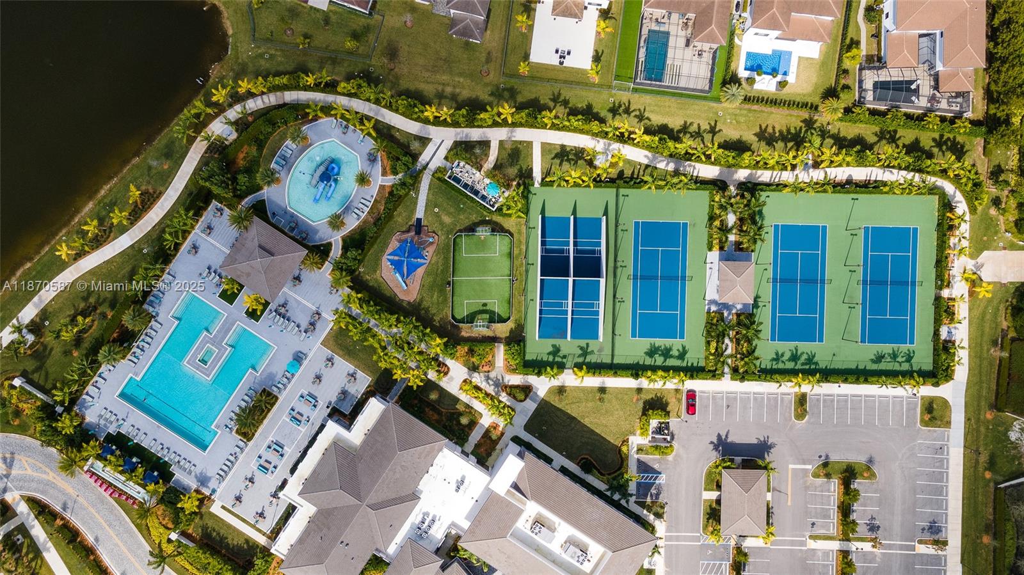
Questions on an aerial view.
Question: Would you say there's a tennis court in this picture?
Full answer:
Yes, a tennis court appears in the view.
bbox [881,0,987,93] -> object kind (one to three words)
house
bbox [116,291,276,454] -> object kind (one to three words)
swimming pool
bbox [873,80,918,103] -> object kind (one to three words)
swimming pool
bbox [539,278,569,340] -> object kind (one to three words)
sports court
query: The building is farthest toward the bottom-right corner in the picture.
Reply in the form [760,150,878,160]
[718,468,767,536]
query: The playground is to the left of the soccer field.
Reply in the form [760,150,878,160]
[381,225,439,302]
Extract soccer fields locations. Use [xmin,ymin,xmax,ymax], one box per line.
[450,226,513,331]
